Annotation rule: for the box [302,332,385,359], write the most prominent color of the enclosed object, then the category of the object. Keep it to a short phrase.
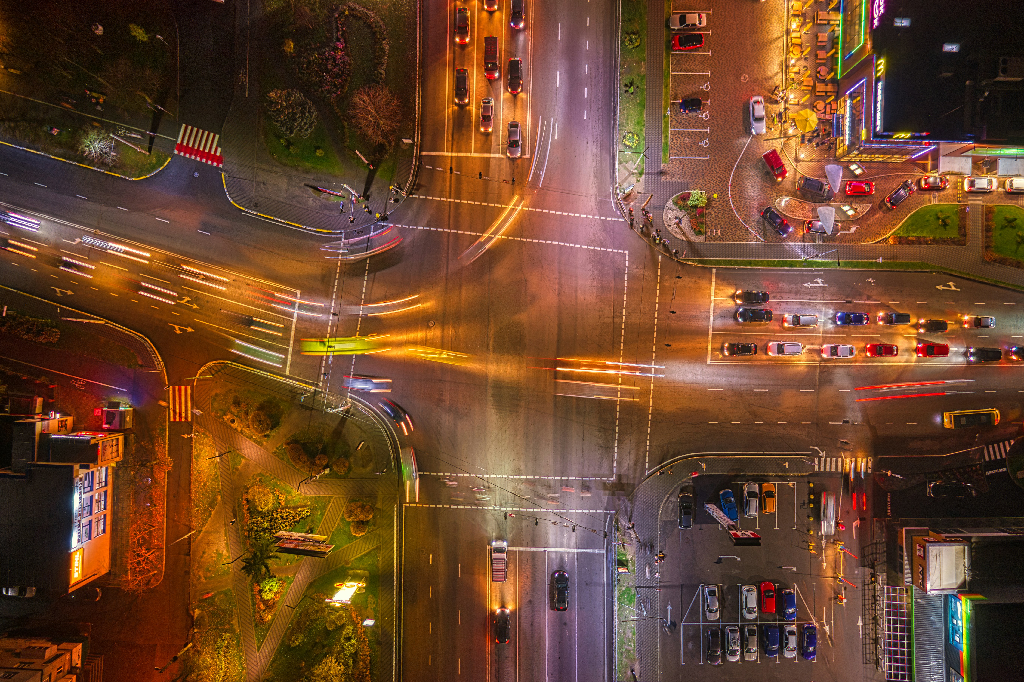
yellow vehicle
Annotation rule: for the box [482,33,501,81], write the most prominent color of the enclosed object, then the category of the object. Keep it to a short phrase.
red vehicle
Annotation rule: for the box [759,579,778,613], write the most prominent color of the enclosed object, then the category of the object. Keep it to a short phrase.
red car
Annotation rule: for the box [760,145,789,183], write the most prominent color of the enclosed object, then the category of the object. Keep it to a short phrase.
red car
